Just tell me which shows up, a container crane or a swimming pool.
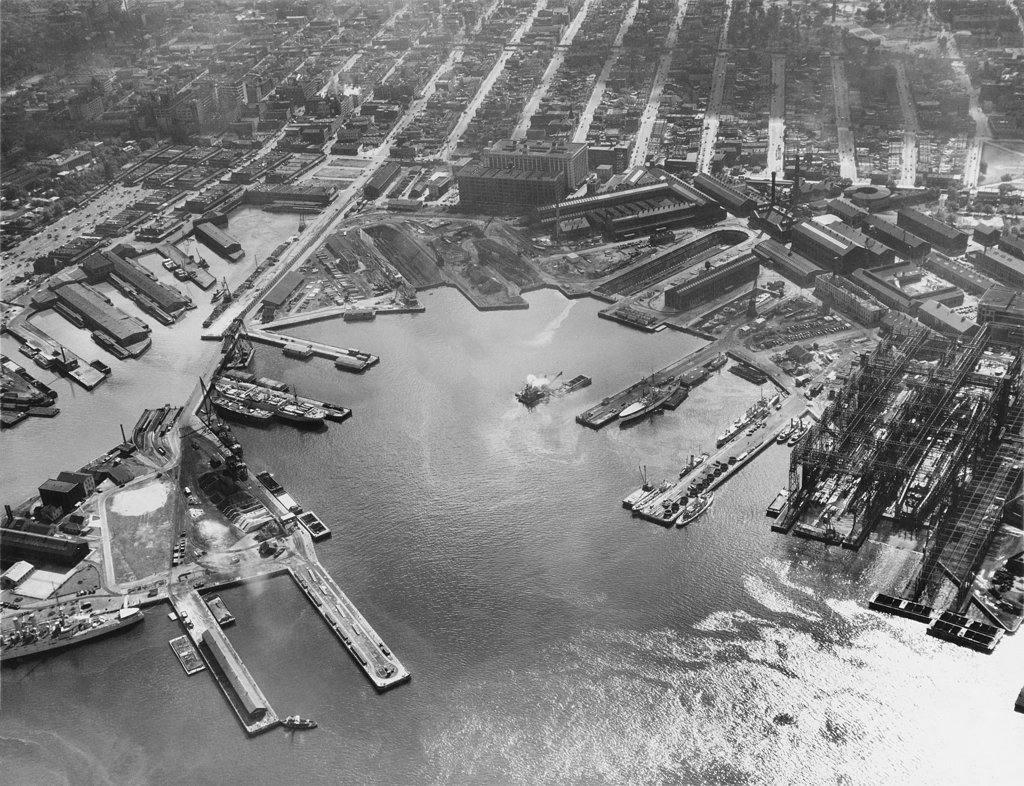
container crane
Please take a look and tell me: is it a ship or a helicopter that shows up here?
ship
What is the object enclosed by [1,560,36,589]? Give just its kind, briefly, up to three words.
building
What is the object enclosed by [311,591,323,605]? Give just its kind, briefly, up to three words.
rail car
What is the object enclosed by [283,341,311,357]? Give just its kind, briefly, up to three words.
ship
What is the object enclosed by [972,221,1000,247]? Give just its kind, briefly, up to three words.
shed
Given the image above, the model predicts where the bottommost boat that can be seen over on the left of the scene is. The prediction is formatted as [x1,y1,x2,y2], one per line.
[280,713,318,731]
